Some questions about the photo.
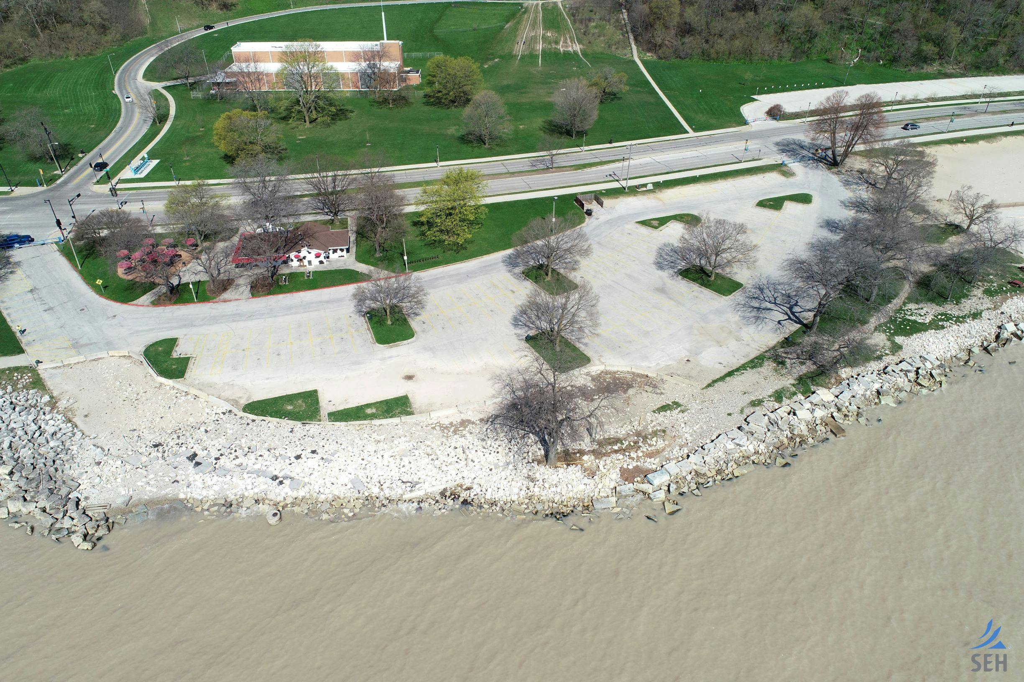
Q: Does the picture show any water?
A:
Yes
